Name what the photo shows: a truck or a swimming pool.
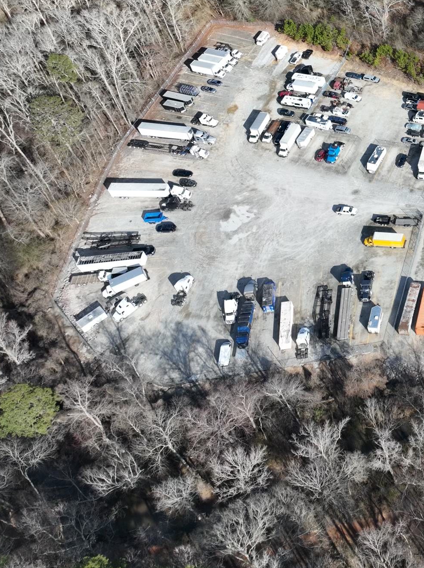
truck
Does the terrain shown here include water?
No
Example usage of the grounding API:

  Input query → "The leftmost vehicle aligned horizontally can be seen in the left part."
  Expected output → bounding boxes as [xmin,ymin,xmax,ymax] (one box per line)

[73,271,112,285]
